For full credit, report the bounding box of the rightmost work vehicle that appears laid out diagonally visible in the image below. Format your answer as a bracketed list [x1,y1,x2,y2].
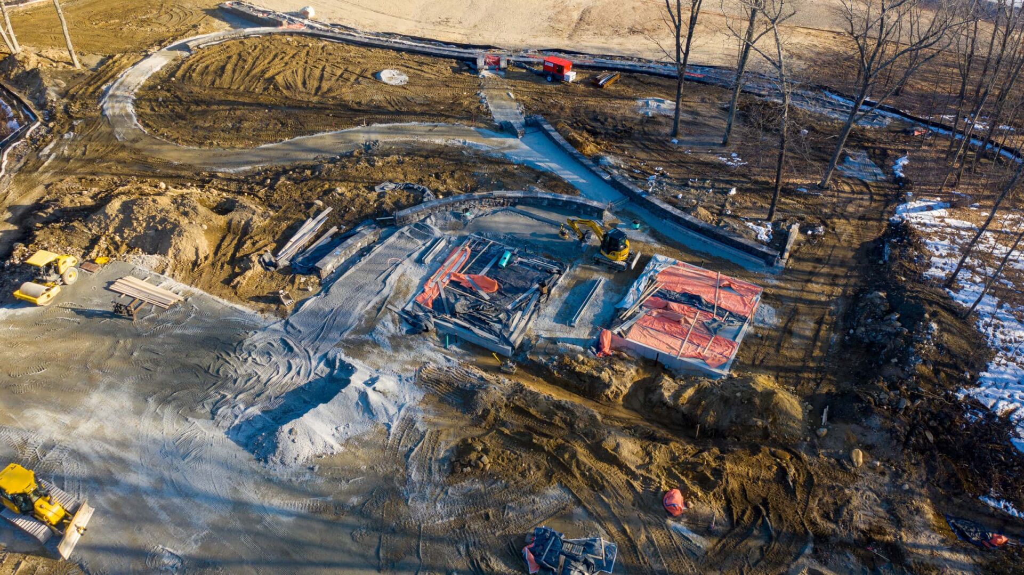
[567,211,644,276]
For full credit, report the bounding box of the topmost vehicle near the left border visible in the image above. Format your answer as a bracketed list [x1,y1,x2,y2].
[2,256,75,307]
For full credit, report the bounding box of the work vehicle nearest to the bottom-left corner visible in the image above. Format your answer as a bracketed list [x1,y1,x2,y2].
[0,466,91,555]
